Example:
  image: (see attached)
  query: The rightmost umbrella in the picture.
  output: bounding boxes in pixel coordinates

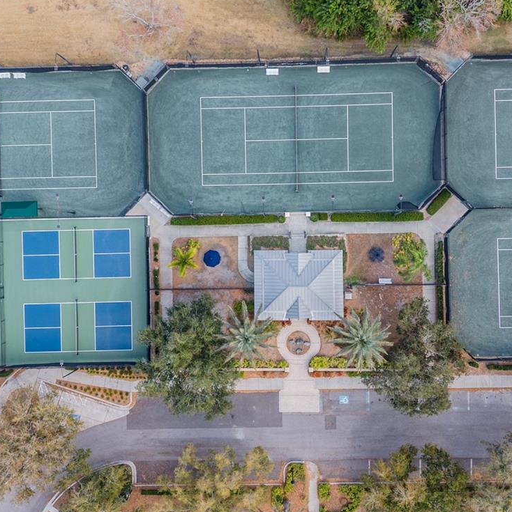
[368,246,383,261]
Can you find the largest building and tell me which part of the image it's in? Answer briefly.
center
